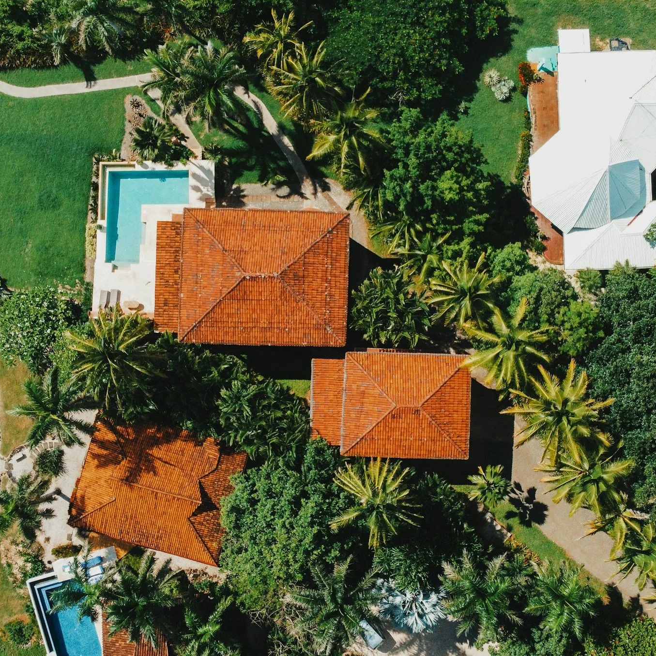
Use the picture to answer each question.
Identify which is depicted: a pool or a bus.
pool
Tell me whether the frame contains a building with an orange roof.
Yes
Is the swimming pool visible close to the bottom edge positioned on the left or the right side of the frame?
left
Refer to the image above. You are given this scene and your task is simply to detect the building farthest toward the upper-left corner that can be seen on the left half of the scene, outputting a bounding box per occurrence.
[154,207,351,349]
